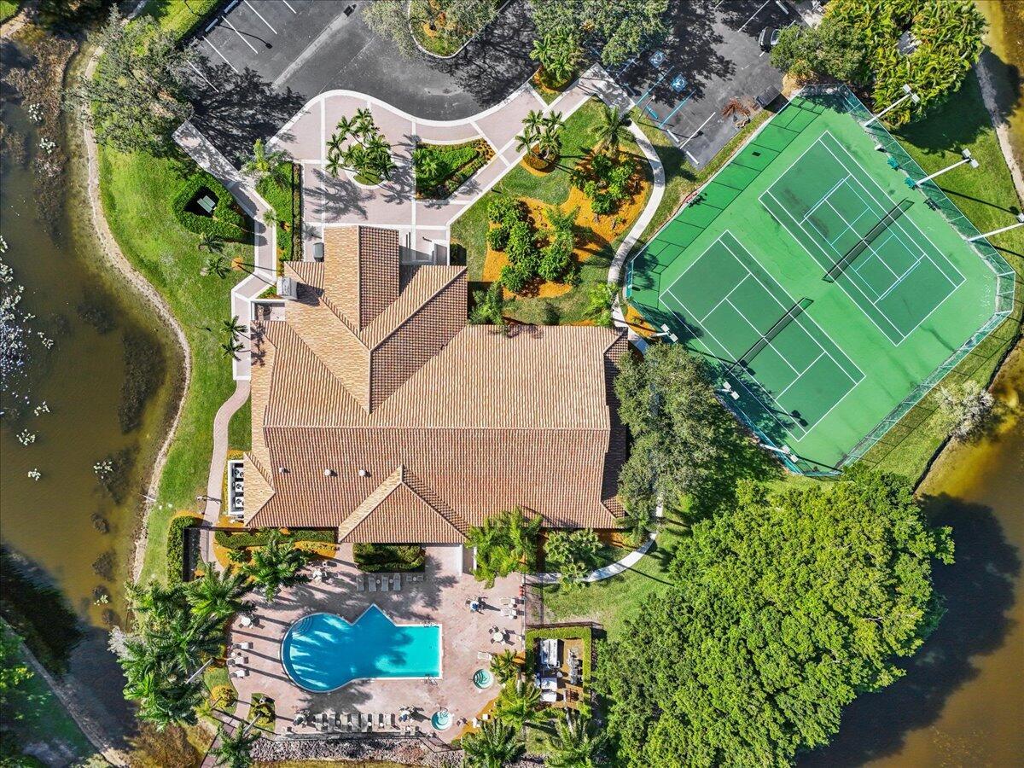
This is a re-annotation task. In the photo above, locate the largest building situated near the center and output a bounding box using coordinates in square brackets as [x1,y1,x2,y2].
[242,226,628,543]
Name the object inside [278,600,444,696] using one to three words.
swimming pool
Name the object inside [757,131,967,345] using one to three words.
tennis court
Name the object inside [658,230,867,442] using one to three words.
tennis court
